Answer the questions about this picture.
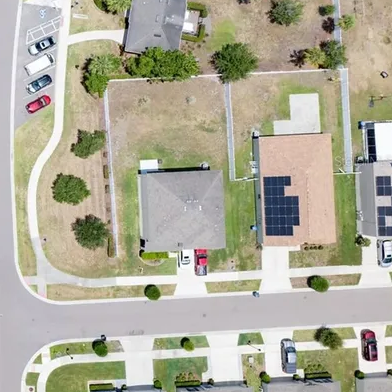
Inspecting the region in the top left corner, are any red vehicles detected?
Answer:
Yes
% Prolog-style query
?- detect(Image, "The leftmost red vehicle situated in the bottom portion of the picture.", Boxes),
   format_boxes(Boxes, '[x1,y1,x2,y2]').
[193,249,209,275]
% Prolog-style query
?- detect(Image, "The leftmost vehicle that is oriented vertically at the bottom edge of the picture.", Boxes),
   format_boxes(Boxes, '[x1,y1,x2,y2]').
[281,338,297,373]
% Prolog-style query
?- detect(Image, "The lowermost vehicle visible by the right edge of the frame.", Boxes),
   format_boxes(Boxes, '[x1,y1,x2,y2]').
[361,329,378,362]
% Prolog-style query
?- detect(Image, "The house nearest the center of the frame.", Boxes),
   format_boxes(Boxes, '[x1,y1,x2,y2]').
[143,170,227,251]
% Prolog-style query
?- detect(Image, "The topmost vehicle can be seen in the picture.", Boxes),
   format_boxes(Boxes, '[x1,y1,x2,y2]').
[27,36,57,56]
